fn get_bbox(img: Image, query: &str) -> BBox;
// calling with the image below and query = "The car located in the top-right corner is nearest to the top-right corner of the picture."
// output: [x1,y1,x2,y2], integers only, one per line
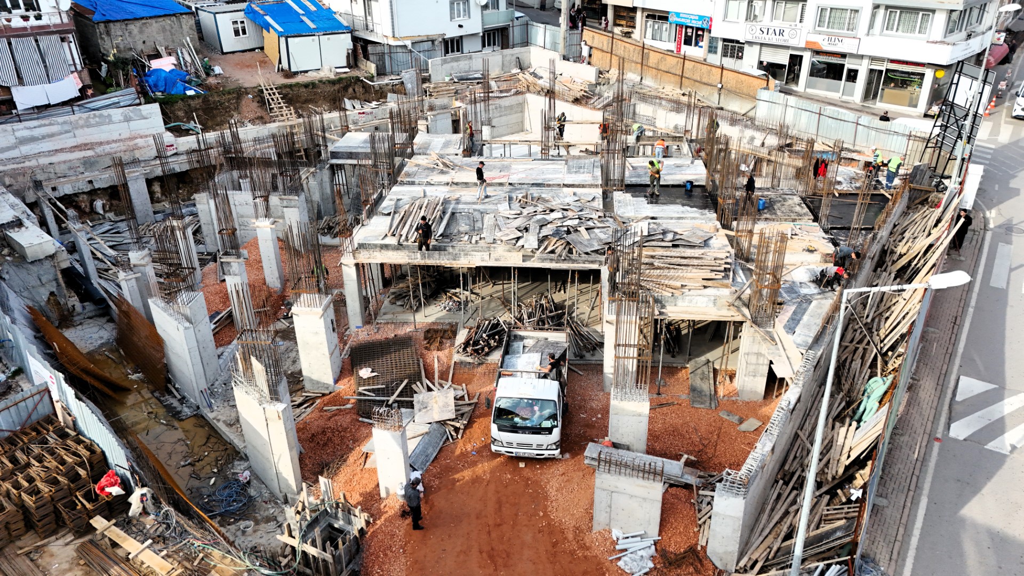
[998,80,1024,118]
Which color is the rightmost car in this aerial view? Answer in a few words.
white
